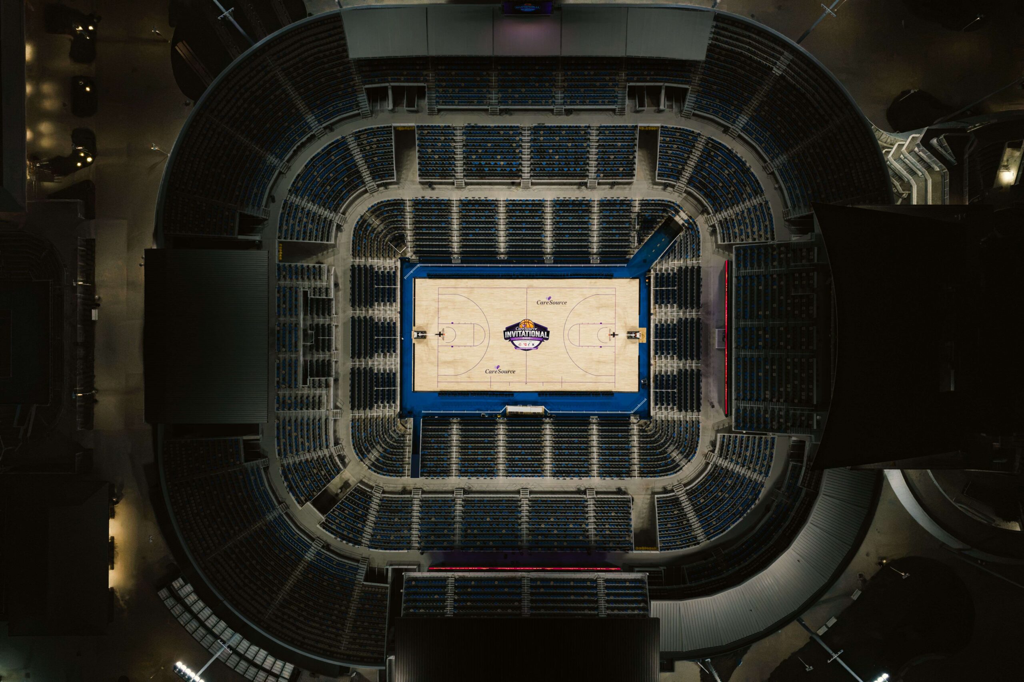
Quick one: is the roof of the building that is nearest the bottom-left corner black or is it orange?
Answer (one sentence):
The roof of the building that is nearest the bottom-left corner is black.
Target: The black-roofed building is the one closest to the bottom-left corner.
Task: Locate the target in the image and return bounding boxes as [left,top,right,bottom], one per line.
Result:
[0,476,115,637]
